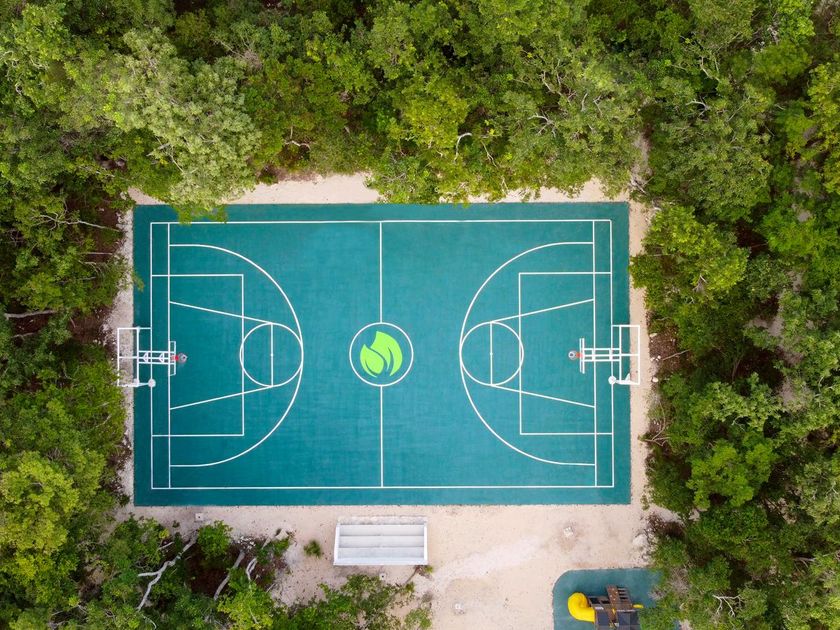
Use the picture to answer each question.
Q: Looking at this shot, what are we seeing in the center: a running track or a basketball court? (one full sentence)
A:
You can see a basketball court in the center.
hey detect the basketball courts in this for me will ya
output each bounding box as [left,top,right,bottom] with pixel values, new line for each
[133,202,631,507]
